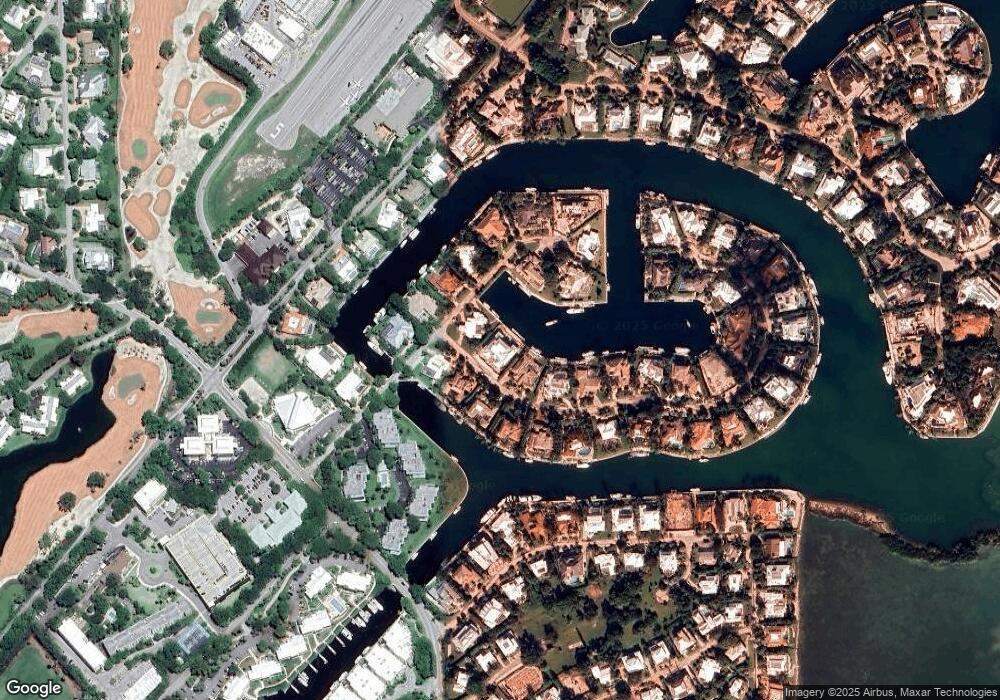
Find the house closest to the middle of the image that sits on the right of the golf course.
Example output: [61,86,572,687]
[479,336,519,372]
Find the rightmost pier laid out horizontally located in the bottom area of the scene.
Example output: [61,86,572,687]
[803,498,895,534]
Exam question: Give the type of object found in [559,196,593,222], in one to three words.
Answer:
house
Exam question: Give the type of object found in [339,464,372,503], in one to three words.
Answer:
building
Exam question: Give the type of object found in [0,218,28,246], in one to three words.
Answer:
house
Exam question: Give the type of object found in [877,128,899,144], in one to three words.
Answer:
swimming pool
